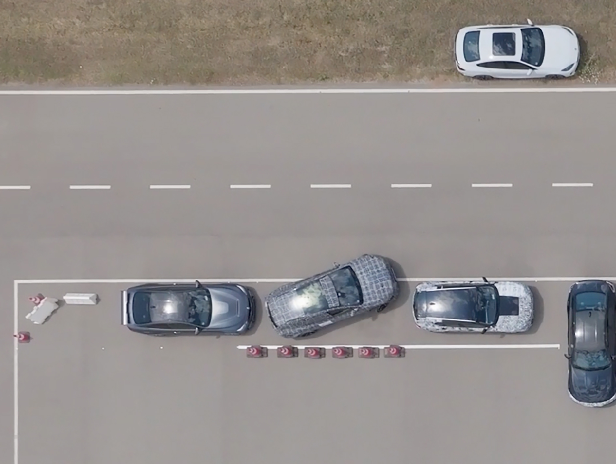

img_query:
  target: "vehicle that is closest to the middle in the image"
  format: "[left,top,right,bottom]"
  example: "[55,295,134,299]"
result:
[264,254,401,339]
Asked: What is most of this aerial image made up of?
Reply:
paved ground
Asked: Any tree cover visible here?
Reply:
No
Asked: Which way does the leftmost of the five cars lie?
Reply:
from left to right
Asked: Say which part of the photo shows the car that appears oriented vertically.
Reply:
bottom right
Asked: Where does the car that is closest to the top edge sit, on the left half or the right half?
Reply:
right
